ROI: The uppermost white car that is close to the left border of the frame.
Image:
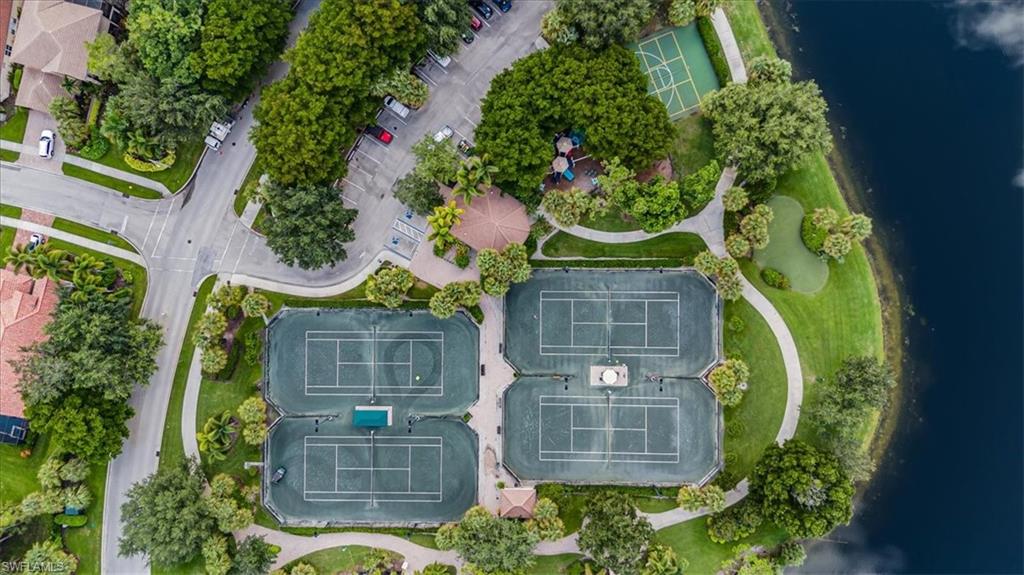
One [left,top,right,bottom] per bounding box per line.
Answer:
[37,130,56,159]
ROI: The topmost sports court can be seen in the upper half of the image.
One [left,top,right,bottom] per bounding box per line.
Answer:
[624,22,719,122]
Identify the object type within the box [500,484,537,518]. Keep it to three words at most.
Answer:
building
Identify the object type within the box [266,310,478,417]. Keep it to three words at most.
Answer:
tennis court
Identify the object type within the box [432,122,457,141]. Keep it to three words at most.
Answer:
car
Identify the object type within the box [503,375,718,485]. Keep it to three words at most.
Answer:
tennis court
